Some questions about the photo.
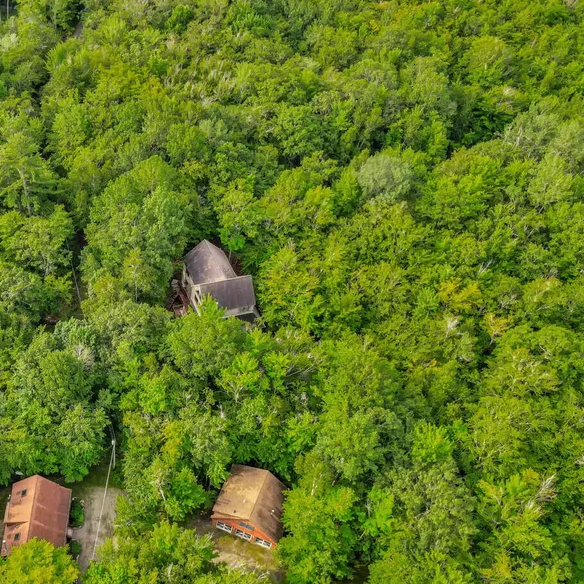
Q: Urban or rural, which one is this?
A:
rural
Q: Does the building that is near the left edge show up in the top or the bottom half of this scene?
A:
bottom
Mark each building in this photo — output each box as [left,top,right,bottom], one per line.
[211,465,288,544]
[0,477,73,557]
[168,240,256,334]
